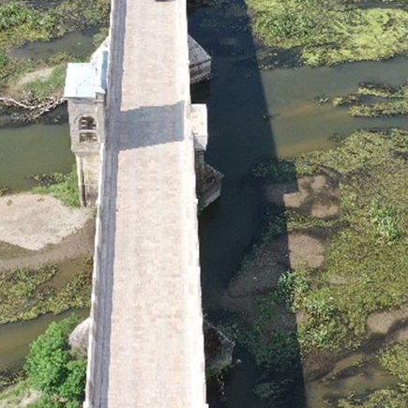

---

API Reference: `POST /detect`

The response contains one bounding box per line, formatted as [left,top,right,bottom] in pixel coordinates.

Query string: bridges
[78,0,236,408]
